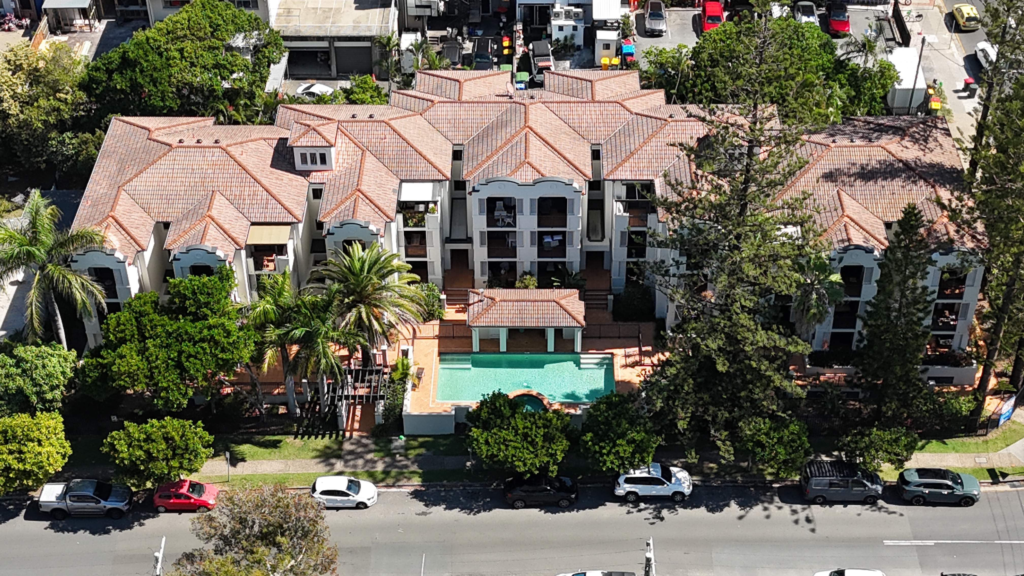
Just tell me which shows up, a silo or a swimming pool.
swimming pool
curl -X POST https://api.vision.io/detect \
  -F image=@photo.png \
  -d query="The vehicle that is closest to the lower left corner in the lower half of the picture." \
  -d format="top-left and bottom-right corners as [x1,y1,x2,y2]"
[34,478,136,520]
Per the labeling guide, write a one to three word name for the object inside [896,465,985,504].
car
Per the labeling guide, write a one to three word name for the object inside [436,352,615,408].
swimming pool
